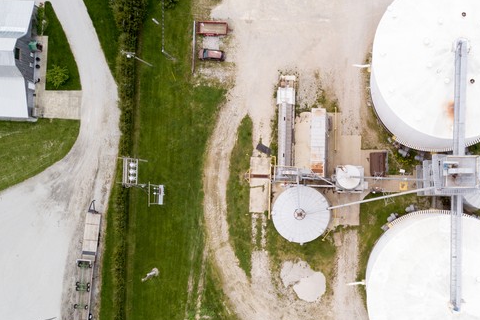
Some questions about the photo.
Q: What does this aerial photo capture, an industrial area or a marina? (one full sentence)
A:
The picture captures an industrial area.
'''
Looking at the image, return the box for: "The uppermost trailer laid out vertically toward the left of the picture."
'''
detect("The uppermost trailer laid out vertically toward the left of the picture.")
[81,199,102,258]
